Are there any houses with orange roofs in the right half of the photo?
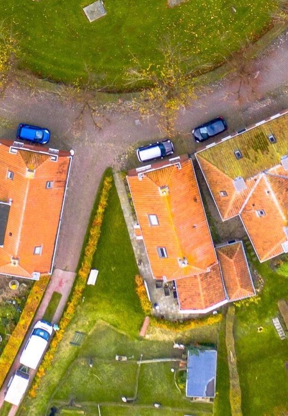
Yes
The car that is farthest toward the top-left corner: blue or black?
blue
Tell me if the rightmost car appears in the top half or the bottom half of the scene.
top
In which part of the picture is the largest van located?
bottom left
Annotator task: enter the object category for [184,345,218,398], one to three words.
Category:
shed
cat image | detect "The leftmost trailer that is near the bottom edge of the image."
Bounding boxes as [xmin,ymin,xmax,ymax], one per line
[4,368,31,409]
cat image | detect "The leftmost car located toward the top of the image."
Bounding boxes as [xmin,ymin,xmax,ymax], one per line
[17,122,51,144]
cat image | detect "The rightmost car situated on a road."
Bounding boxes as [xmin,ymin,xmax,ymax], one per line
[192,116,228,140]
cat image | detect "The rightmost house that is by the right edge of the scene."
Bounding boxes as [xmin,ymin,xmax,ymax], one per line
[194,109,288,263]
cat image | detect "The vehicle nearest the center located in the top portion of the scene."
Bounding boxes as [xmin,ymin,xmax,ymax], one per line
[137,140,175,160]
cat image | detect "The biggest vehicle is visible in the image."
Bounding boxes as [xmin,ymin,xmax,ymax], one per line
[18,319,56,373]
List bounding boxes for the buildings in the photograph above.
[126,157,256,314]
[184,345,218,398]
[0,139,73,279]
[194,109,288,263]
